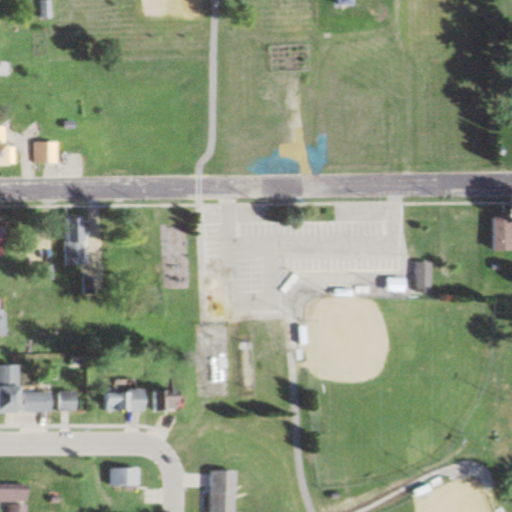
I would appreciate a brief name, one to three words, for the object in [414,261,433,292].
building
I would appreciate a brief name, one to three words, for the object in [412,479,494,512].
baseball field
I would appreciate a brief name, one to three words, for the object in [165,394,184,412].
house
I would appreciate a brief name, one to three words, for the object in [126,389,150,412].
house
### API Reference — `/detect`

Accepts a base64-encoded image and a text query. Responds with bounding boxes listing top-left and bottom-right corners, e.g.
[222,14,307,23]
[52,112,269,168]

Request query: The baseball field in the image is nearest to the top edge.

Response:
[302,296,496,486]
